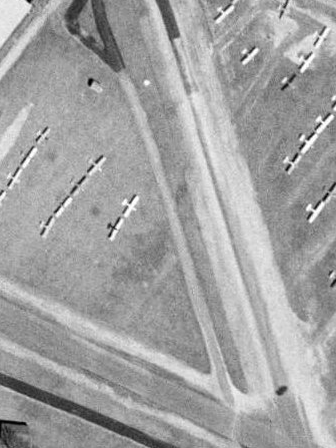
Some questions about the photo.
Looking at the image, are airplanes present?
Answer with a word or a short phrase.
Yes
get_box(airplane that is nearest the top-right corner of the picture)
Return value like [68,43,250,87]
[312,28,329,48]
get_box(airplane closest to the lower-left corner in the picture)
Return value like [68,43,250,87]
[39,218,55,237]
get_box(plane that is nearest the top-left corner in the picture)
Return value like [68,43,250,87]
[33,129,49,145]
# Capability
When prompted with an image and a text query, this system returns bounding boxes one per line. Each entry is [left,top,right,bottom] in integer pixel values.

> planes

[88,156,106,174]
[312,28,329,48]
[105,218,123,240]
[285,156,302,174]
[282,76,298,93]
[316,114,334,133]
[5,170,22,188]
[274,0,291,21]
[19,148,37,168]
[242,48,259,64]
[121,197,139,216]
[306,204,324,222]
[0,192,6,205]
[39,218,55,237]
[70,177,88,196]
[33,129,49,145]
[297,53,316,73]
[321,184,336,204]
[52,197,72,216]
[299,134,318,153]
[215,5,234,23]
